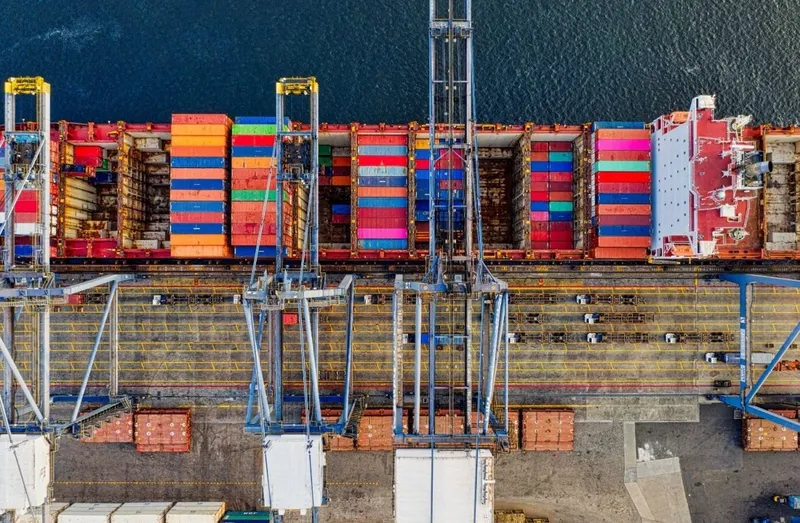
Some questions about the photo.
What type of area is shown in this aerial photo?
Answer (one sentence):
The area seen from above is a port.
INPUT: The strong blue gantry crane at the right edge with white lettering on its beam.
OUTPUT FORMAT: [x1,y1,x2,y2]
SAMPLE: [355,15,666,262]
[708,273,800,439]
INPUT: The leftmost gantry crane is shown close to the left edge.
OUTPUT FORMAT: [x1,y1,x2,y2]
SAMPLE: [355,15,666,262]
[0,75,145,512]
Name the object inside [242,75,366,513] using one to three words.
container crane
